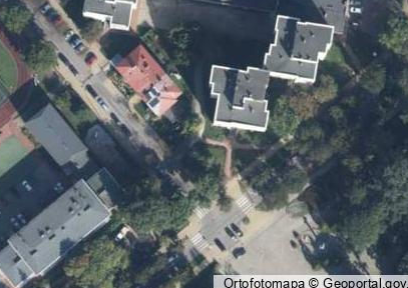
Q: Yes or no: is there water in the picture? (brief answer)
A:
No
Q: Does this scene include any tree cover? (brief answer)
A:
Yes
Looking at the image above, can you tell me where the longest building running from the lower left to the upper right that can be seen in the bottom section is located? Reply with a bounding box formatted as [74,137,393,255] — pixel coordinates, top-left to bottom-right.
[8,180,111,276]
